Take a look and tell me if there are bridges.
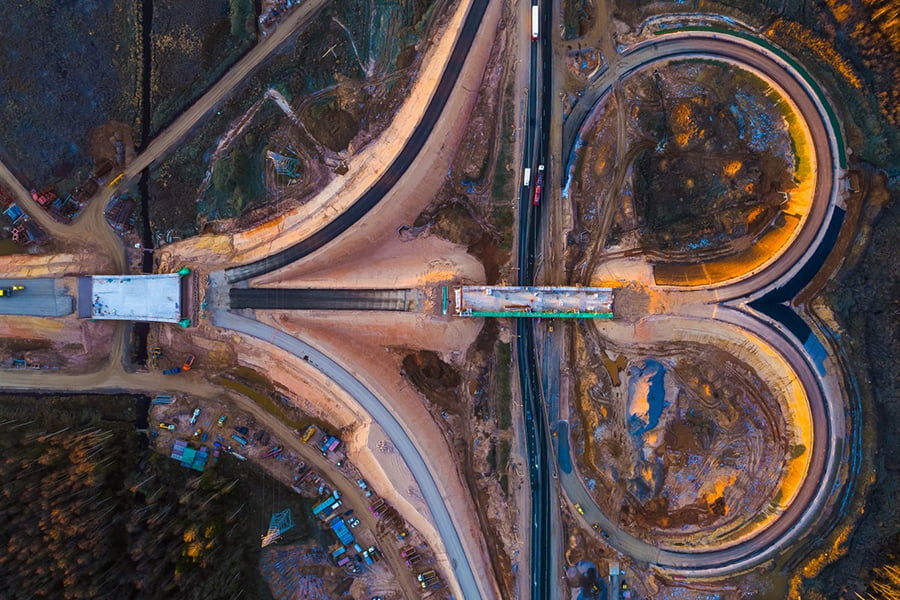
Yes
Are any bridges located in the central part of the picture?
Yes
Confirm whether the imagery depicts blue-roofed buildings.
Yes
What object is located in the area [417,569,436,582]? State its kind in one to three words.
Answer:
vehicle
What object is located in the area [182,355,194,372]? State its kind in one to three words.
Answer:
vehicle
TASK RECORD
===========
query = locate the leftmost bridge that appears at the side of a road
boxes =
[78,273,186,325]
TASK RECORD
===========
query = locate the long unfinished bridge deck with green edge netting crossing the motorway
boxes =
[452,287,613,319]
